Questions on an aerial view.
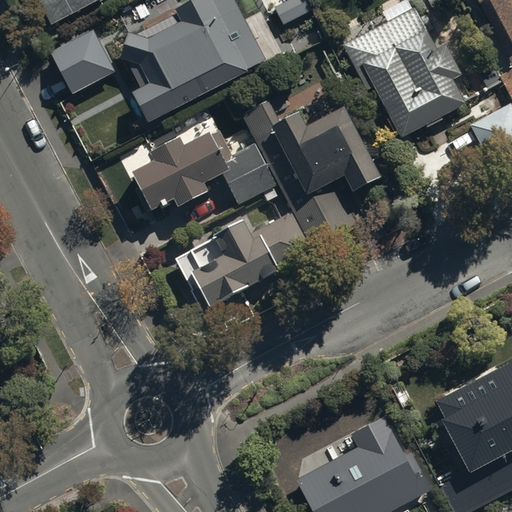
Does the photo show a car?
Yes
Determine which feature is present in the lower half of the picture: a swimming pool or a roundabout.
roundabout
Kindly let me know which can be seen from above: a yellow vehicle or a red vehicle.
red vehicle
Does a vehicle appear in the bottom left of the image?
No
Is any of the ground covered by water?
No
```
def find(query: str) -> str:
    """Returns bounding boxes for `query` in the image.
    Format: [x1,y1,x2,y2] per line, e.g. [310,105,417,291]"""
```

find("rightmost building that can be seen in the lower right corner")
[436,360,512,512]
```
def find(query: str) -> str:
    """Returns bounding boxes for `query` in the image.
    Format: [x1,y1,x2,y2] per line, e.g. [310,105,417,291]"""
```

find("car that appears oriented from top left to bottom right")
[24,118,48,150]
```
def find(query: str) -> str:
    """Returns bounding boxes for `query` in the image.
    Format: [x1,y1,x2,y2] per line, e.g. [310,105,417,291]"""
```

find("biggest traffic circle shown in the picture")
[124,396,173,446]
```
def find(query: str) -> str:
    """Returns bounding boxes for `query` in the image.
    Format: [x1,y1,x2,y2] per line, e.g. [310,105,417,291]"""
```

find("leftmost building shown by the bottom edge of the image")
[296,416,431,512]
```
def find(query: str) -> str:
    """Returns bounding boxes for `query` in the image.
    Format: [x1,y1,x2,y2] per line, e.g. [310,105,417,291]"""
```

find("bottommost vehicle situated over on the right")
[450,274,482,300]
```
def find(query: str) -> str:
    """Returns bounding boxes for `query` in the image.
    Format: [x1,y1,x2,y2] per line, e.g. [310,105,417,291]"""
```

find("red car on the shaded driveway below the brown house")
[186,198,216,220]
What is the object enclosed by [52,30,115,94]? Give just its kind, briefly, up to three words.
building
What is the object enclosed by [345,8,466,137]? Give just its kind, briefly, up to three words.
house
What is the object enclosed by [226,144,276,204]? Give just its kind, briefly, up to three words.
shed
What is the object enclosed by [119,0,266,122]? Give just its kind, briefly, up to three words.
house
